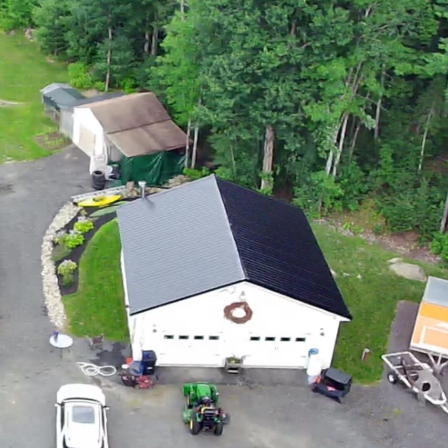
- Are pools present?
No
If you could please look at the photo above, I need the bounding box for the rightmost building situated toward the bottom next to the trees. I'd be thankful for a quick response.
[114,171,355,368]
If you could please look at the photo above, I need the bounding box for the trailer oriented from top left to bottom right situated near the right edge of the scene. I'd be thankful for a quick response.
[376,357,448,417]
